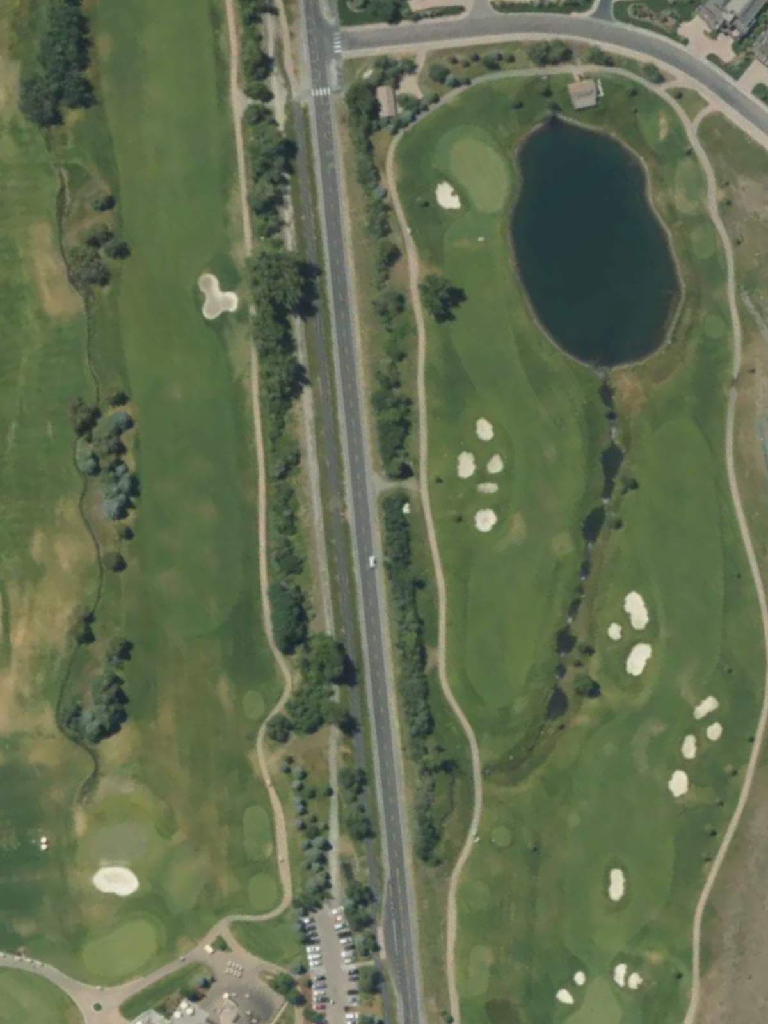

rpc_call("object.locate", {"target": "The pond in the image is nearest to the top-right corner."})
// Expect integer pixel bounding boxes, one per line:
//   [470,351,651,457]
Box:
[511,116,682,369]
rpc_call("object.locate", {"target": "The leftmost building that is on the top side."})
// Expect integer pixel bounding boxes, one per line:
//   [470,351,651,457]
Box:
[376,85,396,117]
